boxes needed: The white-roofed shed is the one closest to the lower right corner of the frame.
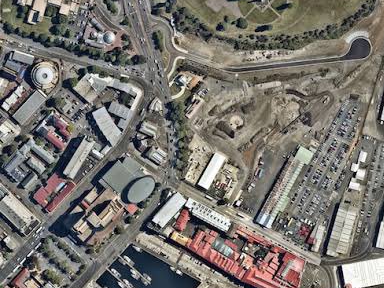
[342,257,384,288]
